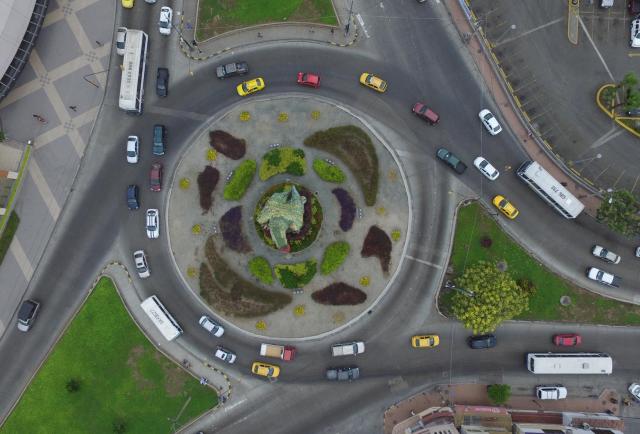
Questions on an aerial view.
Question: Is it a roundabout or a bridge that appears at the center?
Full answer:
It is a roundabout that can be seen at the center.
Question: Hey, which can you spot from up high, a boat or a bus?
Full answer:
This aerial view contains a bus.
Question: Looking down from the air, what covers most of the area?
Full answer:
The bulk of the photo consists of paved ground.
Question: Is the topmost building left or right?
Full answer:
It is on the left.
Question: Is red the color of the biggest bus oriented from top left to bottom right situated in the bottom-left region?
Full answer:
No, the biggest bus oriented from top left to bottom right situated in the bottom-left region is white.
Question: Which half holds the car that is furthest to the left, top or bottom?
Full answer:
The car that is furthest to the left is in the bottom half of the image.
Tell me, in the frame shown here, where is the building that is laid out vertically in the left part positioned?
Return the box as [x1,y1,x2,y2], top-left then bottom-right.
[0,0,51,107]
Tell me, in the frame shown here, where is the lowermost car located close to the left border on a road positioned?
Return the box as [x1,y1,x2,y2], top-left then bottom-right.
[18,300,39,330]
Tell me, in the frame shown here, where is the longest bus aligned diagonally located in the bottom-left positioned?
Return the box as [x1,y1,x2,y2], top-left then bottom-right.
[142,295,183,342]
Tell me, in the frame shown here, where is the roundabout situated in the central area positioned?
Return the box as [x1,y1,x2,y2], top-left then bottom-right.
[163,93,411,341]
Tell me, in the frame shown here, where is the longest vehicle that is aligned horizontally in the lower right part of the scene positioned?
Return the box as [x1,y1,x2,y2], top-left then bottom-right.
[522,351,611,374]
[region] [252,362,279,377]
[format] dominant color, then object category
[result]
yellow car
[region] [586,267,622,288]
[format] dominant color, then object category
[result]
white truck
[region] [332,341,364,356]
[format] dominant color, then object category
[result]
white vehicle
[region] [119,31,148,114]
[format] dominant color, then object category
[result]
white bus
